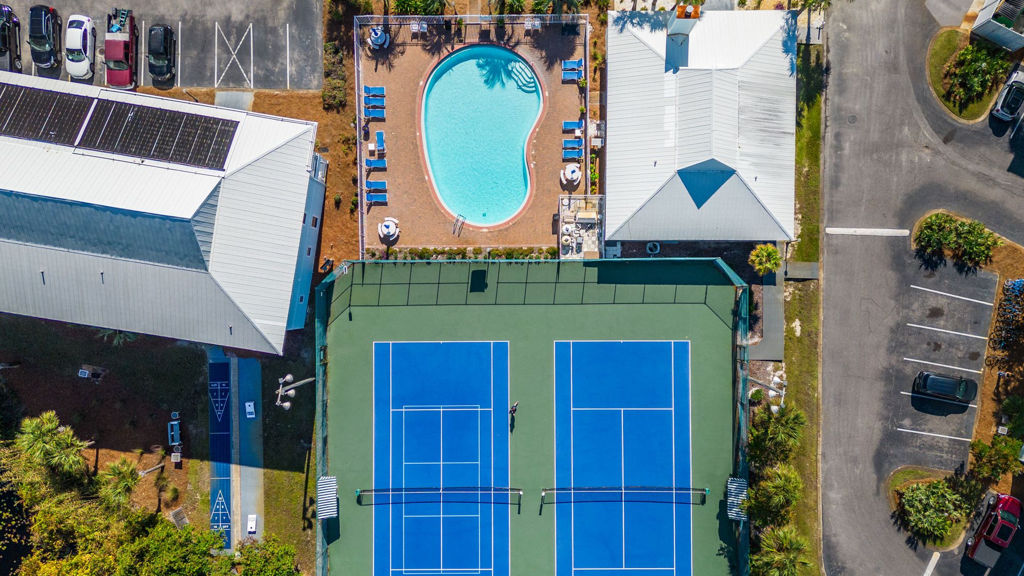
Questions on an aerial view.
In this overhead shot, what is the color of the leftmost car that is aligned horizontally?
black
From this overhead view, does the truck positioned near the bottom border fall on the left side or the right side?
right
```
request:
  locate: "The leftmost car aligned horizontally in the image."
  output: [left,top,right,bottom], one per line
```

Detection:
[916,370,980,403]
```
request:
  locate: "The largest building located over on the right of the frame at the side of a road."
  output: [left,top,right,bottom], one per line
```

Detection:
[604,3,798,241]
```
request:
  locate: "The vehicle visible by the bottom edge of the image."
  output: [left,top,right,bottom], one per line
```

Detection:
[971,491,1024,570]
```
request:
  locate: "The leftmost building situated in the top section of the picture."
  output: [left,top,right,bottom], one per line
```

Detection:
[0,70,337,357]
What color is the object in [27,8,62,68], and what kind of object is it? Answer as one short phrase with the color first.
black car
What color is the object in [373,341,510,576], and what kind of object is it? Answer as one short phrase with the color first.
blue tennis court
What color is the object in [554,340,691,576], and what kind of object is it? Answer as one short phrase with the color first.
blue tennis court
